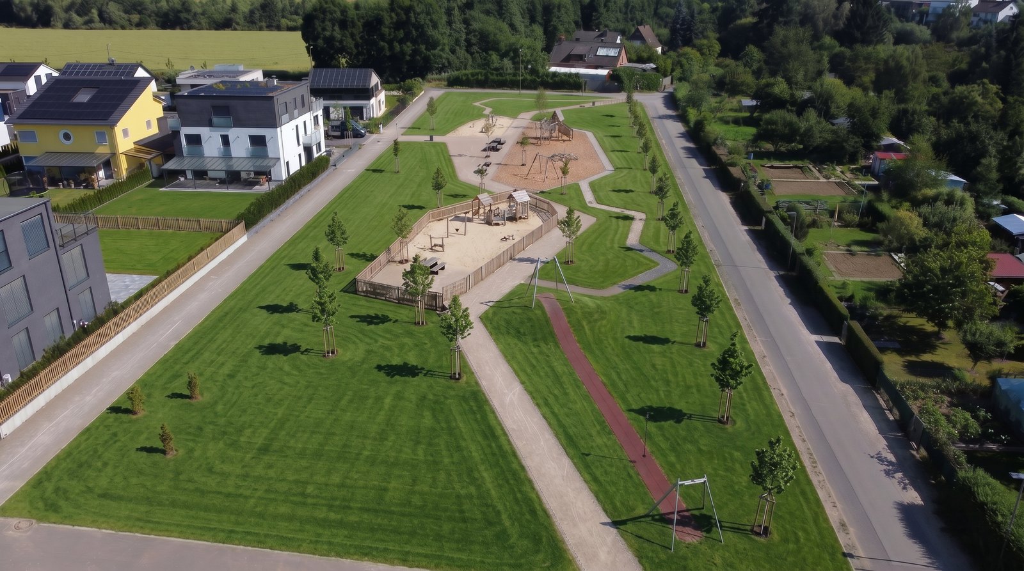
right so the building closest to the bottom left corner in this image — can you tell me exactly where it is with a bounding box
[0,195,113,385]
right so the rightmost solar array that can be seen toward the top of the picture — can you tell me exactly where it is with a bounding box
[310,66,369,87]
